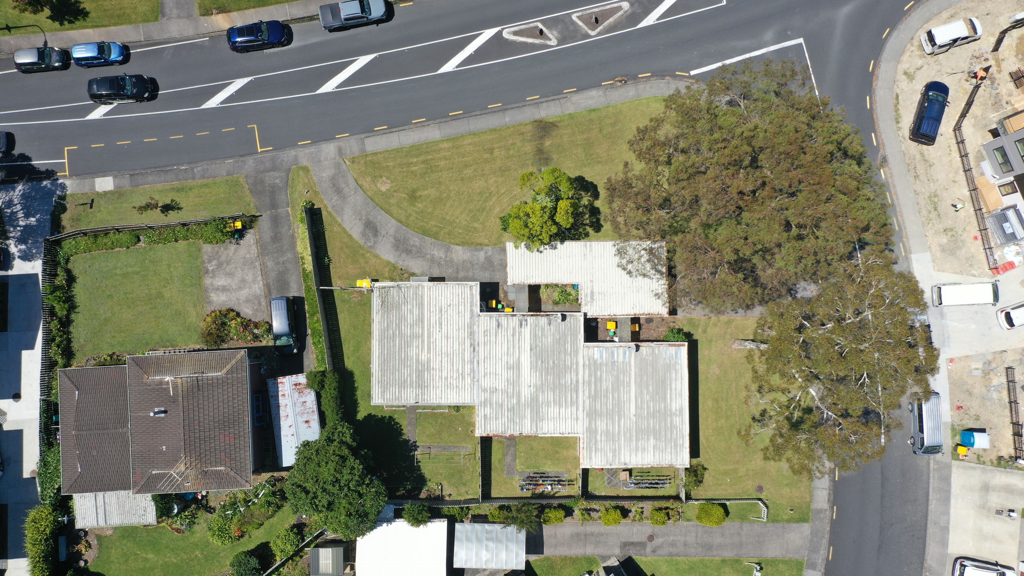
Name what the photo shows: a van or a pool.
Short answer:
van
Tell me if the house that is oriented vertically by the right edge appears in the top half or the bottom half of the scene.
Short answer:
top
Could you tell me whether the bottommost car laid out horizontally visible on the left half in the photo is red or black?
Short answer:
black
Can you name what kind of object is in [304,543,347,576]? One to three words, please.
shed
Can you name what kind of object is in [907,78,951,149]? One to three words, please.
truck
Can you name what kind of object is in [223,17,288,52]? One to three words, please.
car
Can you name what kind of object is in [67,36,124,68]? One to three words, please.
car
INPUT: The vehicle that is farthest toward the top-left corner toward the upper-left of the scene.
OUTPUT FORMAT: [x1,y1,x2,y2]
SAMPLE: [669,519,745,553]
[8,42,65,73]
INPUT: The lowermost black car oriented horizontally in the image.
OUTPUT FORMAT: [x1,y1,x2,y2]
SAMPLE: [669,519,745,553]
[82,70,151,105]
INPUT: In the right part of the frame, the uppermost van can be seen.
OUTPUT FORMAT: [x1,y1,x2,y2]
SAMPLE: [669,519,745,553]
[918,13,985,57]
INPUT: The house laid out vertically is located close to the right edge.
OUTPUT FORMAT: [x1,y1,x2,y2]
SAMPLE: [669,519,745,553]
[979,111,1024,207]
